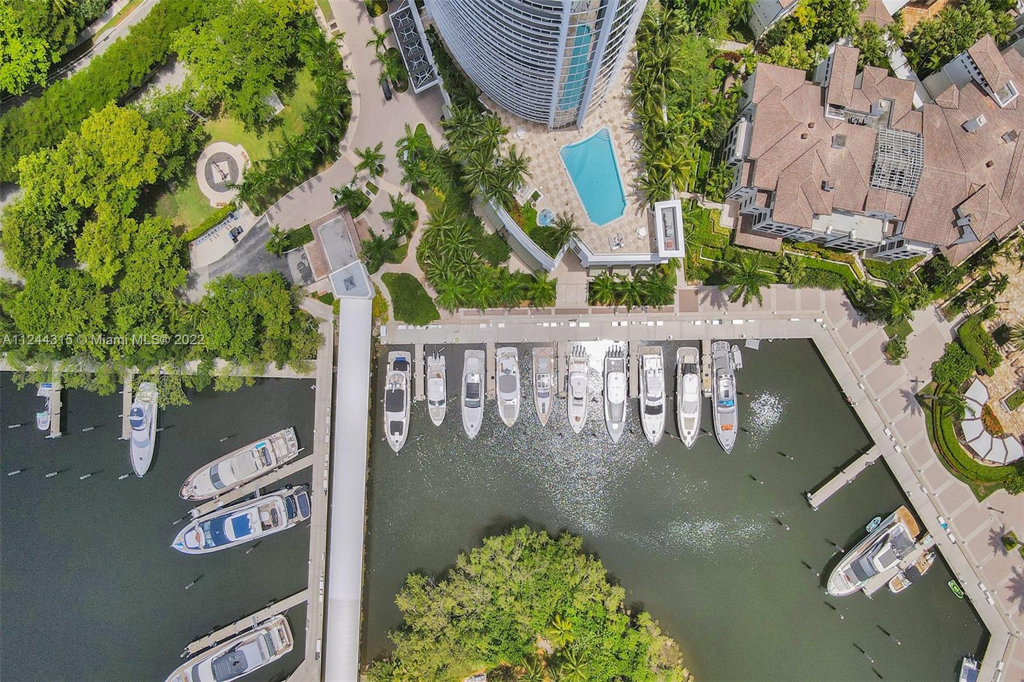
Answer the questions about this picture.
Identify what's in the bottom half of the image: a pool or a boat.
boat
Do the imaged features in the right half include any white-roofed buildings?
Yes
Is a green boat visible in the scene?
Yes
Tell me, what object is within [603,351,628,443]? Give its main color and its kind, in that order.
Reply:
white boat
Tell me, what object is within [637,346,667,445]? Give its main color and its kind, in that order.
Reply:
white boat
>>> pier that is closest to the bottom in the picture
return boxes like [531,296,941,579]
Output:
[188,587,307,655]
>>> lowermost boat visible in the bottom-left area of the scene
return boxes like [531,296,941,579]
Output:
[167,614,294,682]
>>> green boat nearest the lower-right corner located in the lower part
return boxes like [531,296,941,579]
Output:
[947,580,964,599]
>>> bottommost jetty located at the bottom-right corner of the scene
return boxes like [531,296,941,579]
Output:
[863,535,936,596]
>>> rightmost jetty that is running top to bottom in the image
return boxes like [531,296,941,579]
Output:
[699,341,712,394]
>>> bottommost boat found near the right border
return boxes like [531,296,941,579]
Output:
[956,651,977,682]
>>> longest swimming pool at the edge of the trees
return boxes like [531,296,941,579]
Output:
[560,127,627,227]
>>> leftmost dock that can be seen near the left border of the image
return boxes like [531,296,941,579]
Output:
[48,372,67,436]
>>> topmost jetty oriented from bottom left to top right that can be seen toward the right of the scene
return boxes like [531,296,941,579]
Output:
[809,445,882,508]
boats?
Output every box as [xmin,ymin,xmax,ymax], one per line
[428,355,446,426]
[461,350,486,438]
[889,550,936,592]
[386,351,414,455]
[673,348,705,450]
[947,580,964,599]
[496,348,521,427]
[731,345,744,374]
[168,484,311,550]
[824,504,920,596]
[637,346,667,445]
[865,517,882,531]
[177,427,305,500]
[123,382,163,478]
[956,651,977,682]
[36,383,52,431]
[566,351,589,434]
[603,351,628,443]
[710,342,742,455]
[167,614,294,682]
